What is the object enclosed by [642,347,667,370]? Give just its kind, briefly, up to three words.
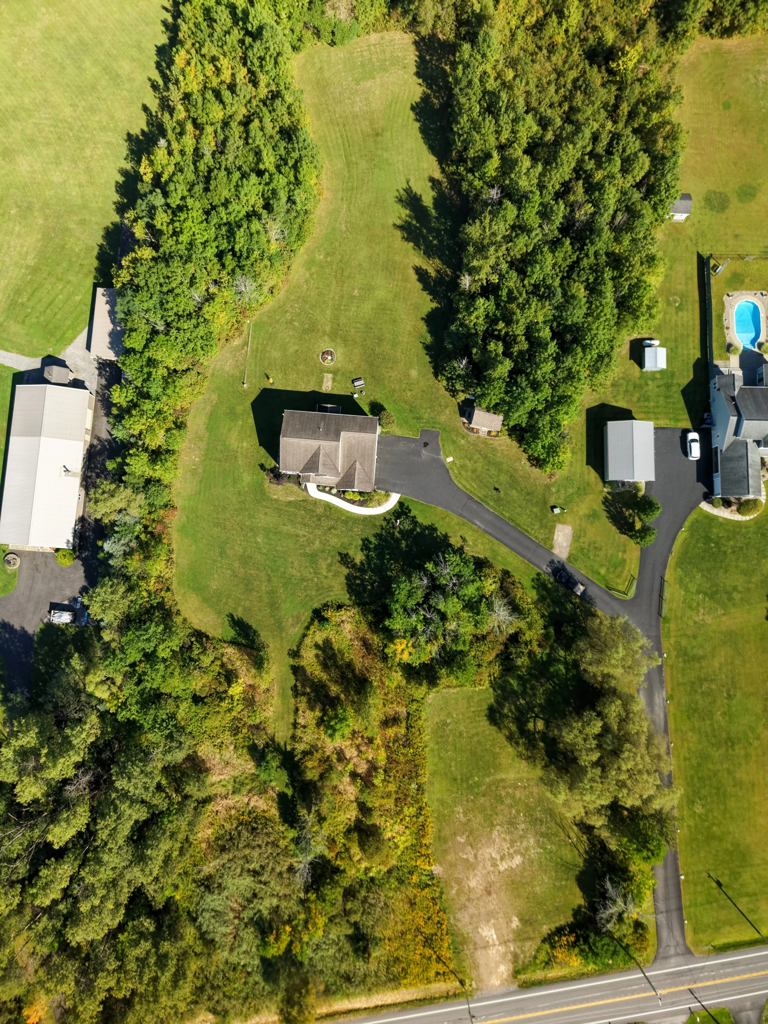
shed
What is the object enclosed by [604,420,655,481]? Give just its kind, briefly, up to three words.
building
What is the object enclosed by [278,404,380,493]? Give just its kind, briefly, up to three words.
house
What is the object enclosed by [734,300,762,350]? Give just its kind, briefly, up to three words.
swimming pool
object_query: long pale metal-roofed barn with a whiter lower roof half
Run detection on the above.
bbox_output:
[0,384,95,548]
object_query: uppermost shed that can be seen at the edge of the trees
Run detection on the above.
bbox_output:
[671,193,697,221]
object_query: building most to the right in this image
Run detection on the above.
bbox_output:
[711,364,768,498]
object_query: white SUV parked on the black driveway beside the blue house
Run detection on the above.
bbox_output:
[687,433,703,461]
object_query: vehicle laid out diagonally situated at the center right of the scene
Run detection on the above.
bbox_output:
[553,566,587,597]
